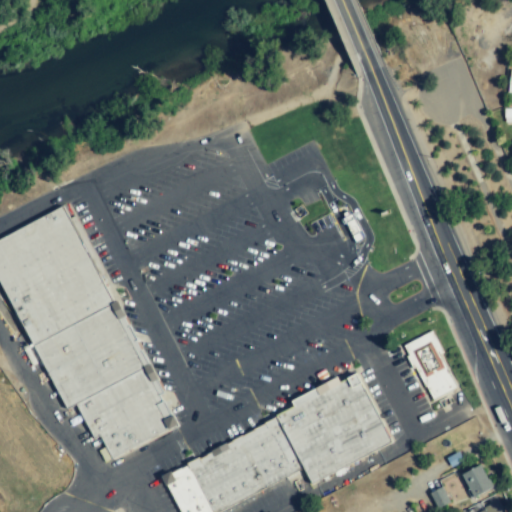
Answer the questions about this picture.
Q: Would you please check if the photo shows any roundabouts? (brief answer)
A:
No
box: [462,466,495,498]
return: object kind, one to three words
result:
house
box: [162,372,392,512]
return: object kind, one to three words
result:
building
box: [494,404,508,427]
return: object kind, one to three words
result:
vehicle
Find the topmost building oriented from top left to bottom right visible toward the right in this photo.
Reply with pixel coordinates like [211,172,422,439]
[344,212,367,242]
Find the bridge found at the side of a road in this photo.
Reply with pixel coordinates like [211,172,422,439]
[326,0,391,84]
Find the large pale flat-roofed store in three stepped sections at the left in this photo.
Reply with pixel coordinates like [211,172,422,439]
[0,207,179,462]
